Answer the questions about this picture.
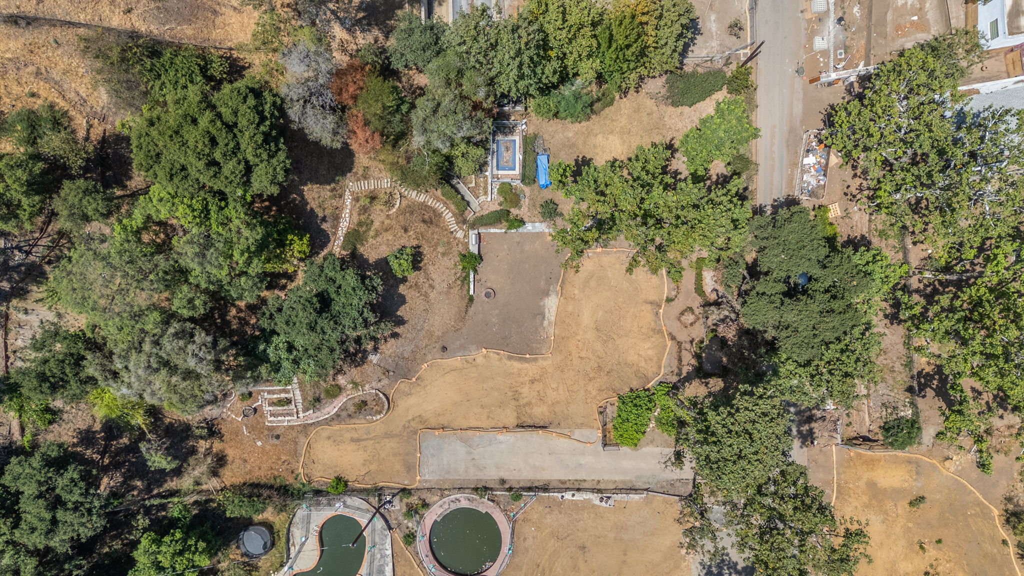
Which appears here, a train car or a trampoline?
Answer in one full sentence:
Visible in the photo is a trampoline.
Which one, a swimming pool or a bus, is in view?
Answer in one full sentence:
I can see a swimming pool in this picture.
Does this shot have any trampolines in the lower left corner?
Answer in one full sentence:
Yes, looking in the lower left corner, one can make out a trampoline.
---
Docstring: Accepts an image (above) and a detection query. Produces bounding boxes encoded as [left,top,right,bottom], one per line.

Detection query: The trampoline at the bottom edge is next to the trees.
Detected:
[235,525,270,562]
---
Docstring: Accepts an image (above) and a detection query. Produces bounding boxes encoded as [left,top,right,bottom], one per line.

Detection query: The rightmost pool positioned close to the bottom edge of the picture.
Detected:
[416,492,513,576]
